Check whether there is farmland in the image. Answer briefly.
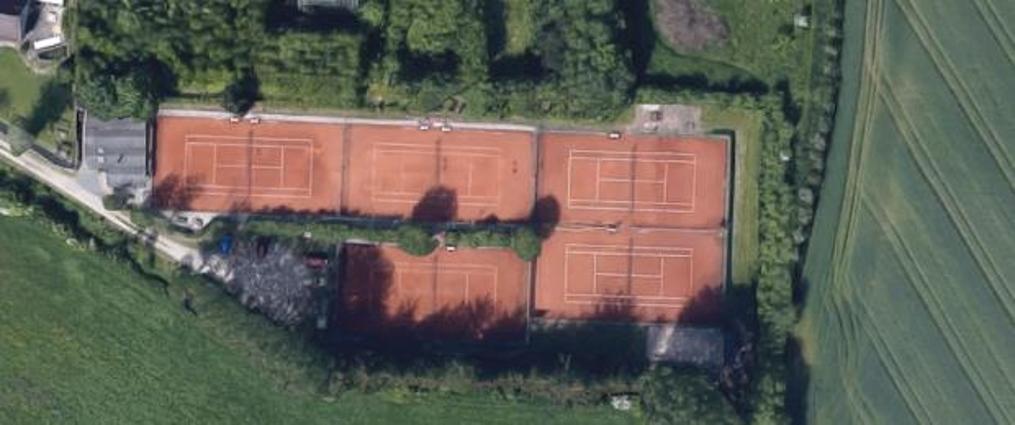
Yes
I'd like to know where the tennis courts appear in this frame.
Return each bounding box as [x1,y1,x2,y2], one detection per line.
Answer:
[150,117,345,217]
[342,124,538,223]
[533,226,725,325]
[339,243,531,345]
[536,131,728,231]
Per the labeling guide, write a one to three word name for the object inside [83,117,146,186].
building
